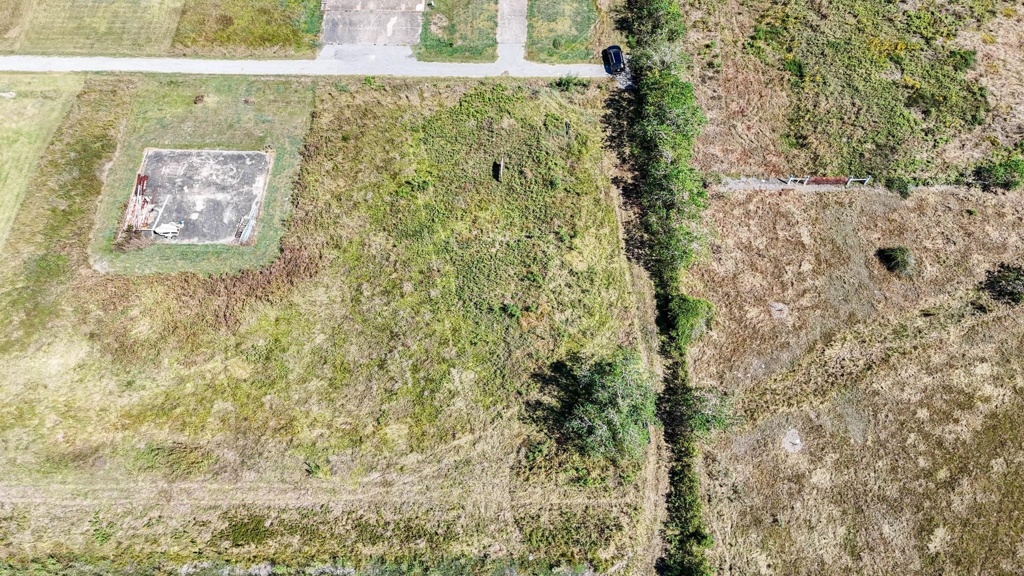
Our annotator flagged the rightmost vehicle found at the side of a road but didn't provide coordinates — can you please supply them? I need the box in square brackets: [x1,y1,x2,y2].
[605,46,626,72]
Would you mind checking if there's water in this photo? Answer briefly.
No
